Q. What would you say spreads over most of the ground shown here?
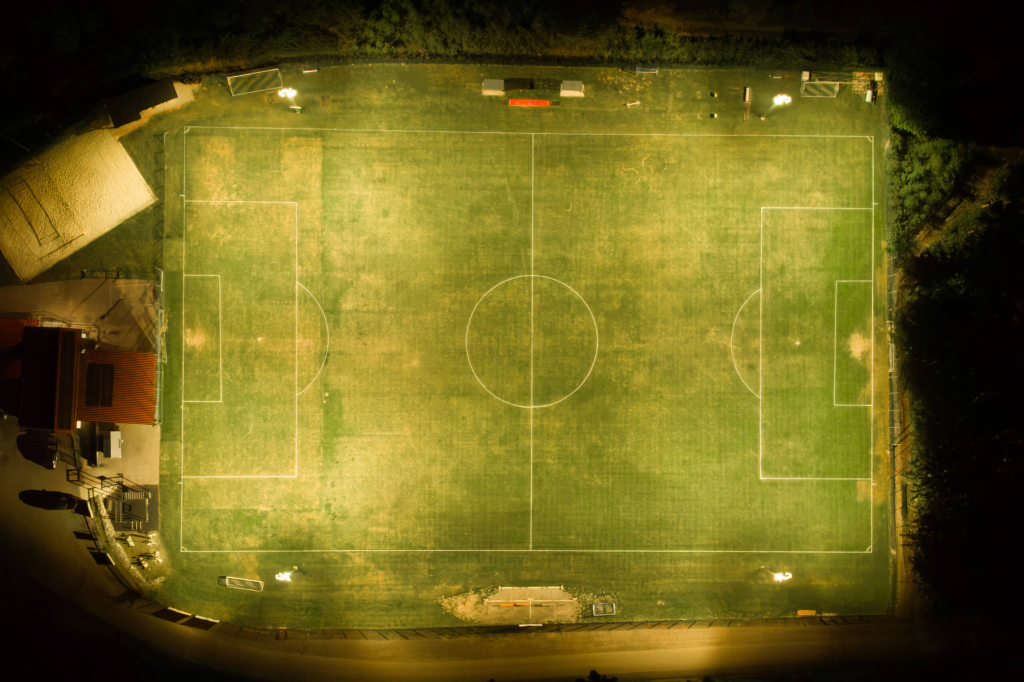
grass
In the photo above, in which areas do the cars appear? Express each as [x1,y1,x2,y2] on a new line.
[41,437,58,469]
[44,494,75,509]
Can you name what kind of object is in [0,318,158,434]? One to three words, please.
building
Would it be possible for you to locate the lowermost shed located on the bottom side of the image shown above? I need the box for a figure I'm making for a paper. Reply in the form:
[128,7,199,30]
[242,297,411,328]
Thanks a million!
[104,431,123,458]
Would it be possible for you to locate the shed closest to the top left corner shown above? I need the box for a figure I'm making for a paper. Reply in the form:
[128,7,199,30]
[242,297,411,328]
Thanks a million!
[107,79,179,129]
